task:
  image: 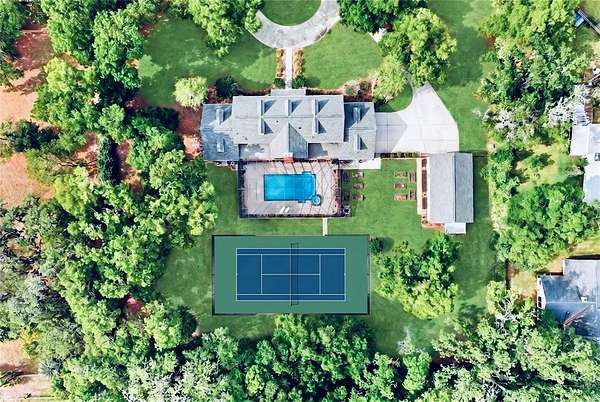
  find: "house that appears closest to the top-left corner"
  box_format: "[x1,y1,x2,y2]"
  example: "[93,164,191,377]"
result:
[199,89,379,164]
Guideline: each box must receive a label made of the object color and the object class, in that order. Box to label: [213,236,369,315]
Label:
green tennis court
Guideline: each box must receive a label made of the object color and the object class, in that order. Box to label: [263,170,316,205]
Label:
blue swimming pool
